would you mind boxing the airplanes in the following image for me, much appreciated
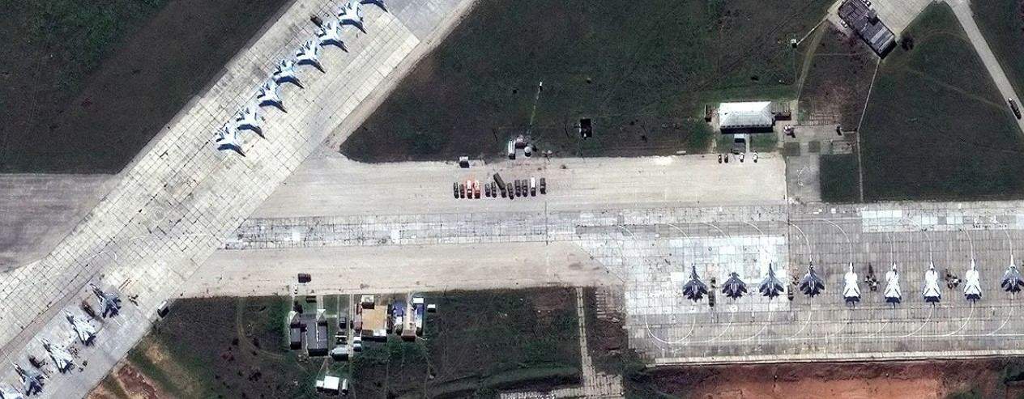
[314,14,345,44]
[290,34,323,65]
[923,263,941,300]
[885,265,903,300]
[253,74,285,106]
[1000,256,1024,293]
[230,100,263,130]
[799,258,825,294]
[270,50,301,81]
[331,0,364,25]
[211,118,243,149]
[38,337,68,371]
[758,261,784,299]
[65,312,95,346]
[681,264,707,300]
[721,261,747,298]
[843,263,861,299]
[90,284,120,318]
[12,363,42,396]
[964,260,983,297]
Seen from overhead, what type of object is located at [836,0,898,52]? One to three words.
building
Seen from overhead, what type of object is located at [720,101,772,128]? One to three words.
building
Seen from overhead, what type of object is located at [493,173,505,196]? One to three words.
vehicle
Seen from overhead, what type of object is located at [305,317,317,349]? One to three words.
shed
